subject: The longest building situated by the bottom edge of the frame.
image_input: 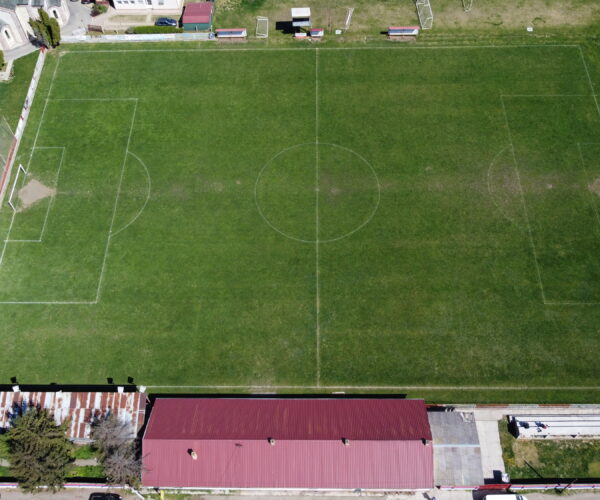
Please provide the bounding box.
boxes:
[142,397,434,491]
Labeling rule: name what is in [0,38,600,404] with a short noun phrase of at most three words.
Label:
soccer field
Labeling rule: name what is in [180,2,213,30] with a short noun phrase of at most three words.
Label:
shed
